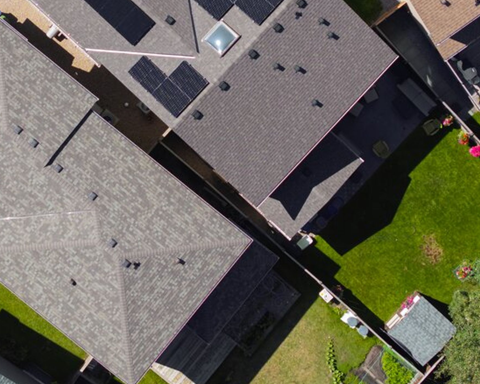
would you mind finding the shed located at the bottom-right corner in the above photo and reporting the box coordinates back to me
[386,295,456,367]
